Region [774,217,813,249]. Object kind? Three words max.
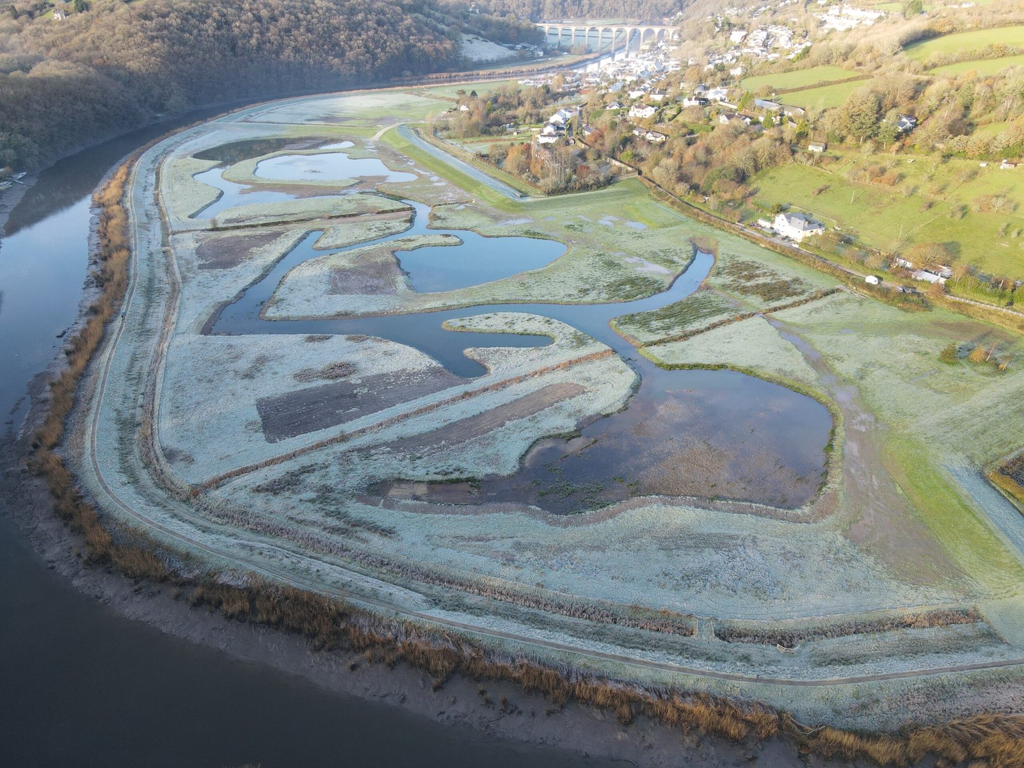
house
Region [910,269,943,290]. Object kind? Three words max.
shed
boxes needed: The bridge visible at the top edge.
[533,24,687,50]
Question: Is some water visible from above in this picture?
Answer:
Yes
